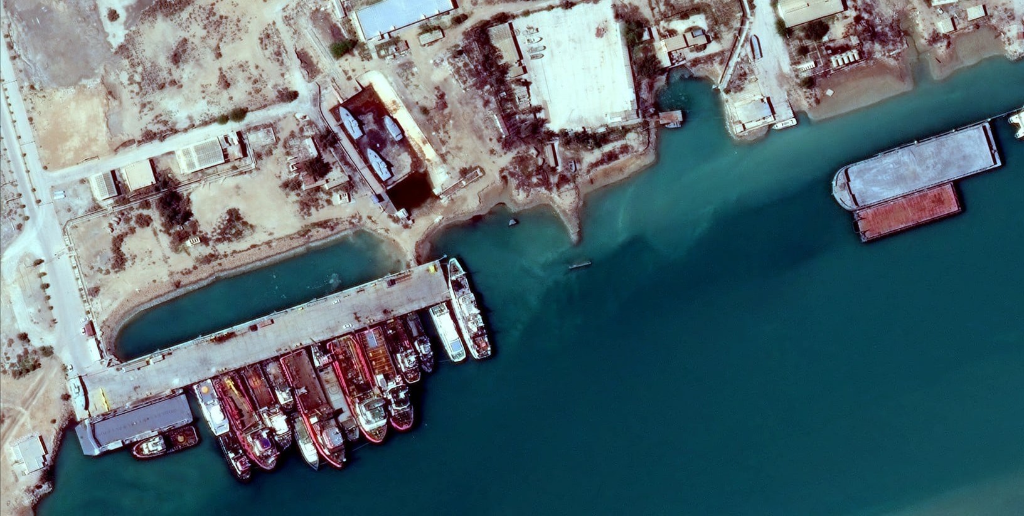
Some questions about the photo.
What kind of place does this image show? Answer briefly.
port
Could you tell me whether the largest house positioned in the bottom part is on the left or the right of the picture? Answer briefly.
left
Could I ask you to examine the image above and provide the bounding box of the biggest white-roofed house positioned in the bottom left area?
[17,437,45,473]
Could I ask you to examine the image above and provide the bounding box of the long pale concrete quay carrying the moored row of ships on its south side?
[67,255,451,421]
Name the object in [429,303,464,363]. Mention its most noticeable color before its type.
white ship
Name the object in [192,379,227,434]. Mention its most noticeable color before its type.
white boat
